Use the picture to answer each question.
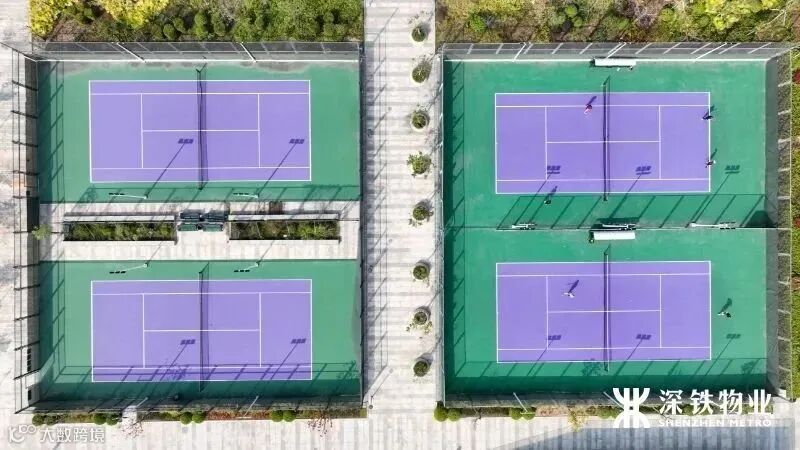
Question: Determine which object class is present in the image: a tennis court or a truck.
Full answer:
There is a tennis court in the scene.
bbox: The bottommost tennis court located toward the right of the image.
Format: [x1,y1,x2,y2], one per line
[441,228,766,398]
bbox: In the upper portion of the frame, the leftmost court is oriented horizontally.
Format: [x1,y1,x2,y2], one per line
[37,62,359,205]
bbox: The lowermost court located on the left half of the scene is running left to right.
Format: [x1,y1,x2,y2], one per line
[39,257,360,399]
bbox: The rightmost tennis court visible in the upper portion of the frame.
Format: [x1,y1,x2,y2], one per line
[440,62,765,229]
